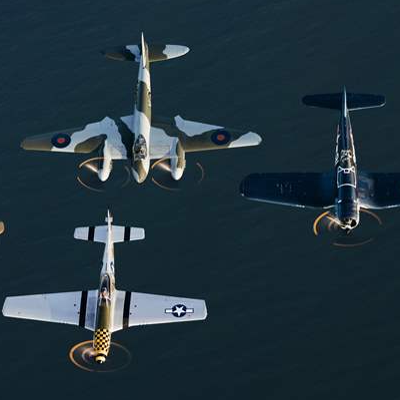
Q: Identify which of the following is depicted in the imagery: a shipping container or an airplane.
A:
airplane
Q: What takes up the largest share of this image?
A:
water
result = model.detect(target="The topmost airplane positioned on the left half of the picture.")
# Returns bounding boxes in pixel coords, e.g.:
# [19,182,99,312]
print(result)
[20,30,261,193]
